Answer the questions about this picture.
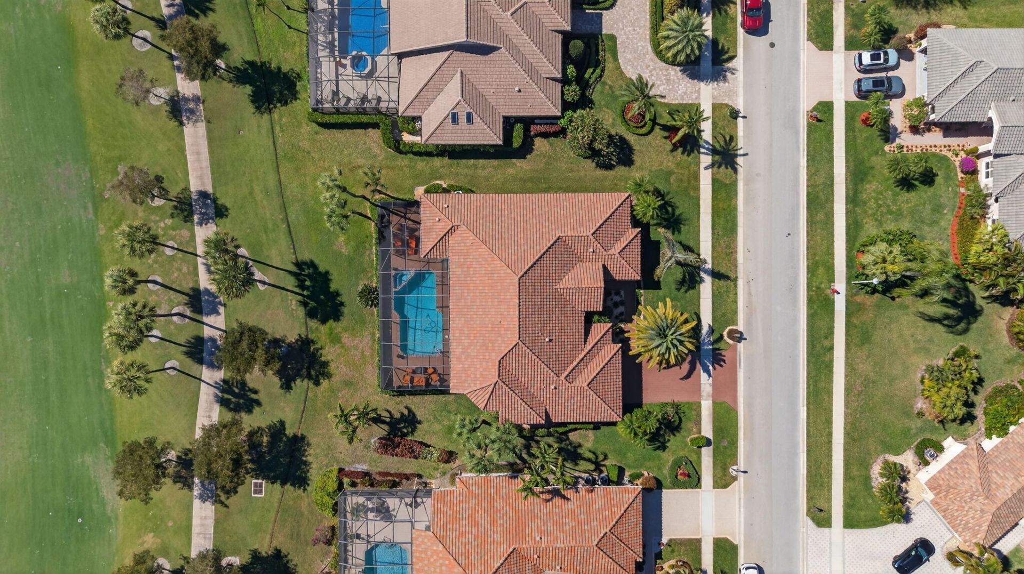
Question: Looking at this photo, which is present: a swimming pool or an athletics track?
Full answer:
It is a swimming pool that can be seen here.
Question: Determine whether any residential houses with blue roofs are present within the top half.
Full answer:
No, within the top half there is no residential house with a blue roof.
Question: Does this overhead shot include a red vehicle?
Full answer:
Yes, looking at the shot, I can spot a red vehicle.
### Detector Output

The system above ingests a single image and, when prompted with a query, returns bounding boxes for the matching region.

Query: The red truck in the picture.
[741,0,767,32]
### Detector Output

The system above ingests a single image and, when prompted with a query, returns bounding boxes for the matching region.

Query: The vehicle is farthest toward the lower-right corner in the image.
[889,536,932,574]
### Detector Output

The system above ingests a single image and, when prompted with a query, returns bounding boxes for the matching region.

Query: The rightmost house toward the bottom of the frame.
[915,408,1024,556]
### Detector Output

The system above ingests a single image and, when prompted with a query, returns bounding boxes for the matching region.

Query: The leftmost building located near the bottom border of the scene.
[413,474,642,574]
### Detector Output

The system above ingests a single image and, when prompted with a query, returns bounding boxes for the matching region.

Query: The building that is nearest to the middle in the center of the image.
[419,192,643,424]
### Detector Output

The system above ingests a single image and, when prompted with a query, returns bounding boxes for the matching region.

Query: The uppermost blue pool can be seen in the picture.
[335,0,390,56]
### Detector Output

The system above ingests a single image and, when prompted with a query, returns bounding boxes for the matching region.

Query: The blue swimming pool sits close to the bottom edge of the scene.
[363,543,409,574]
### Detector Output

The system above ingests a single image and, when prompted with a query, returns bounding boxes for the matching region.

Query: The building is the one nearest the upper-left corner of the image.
[389,0,572,146]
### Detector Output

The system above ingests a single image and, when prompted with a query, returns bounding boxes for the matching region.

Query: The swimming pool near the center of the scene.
[392,269,444,357]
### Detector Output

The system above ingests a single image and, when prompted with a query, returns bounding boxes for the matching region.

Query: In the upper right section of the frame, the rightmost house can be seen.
[914,27,1024,249]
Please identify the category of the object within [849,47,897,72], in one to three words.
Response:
car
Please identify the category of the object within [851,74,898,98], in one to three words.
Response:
car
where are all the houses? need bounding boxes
[413,474,642,574]
[914,27,1024,249]
[419,192,643,424]
[915,408,1024,556]
[389,0,572,146]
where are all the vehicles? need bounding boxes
[737,560,758,574]
[849,47,897,72]
[851,74,898,98]
[741,0,767,32]
[889,536,932,574]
